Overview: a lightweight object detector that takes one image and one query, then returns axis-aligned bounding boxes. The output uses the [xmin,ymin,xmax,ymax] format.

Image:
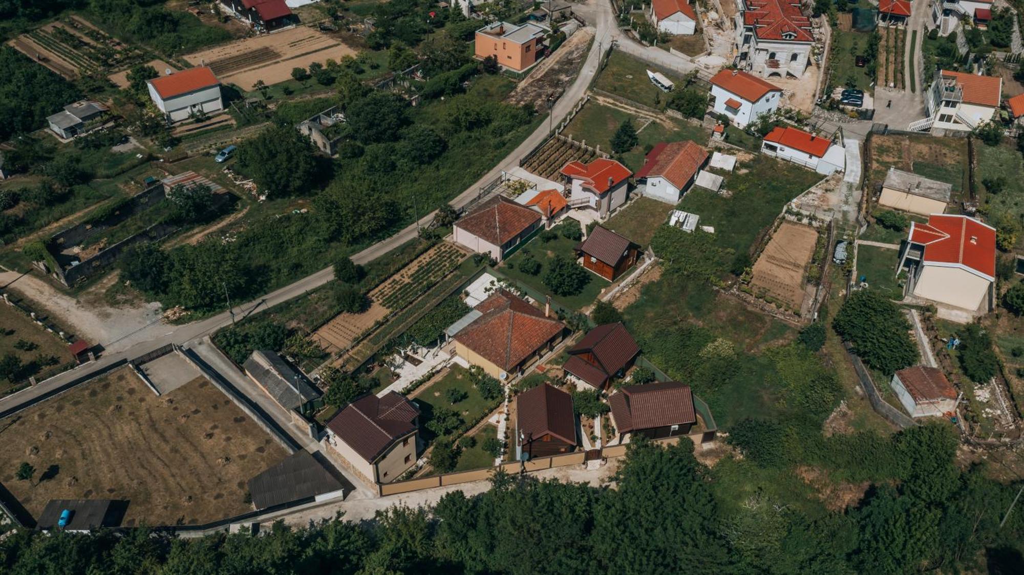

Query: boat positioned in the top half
[644,65,676,87]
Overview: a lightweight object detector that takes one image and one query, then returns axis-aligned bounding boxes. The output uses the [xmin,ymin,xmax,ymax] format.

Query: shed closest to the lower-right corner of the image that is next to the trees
[893,366,961,414]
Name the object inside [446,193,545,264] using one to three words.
house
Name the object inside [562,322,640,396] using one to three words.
house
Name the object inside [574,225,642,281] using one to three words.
building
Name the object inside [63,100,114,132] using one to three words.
shed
